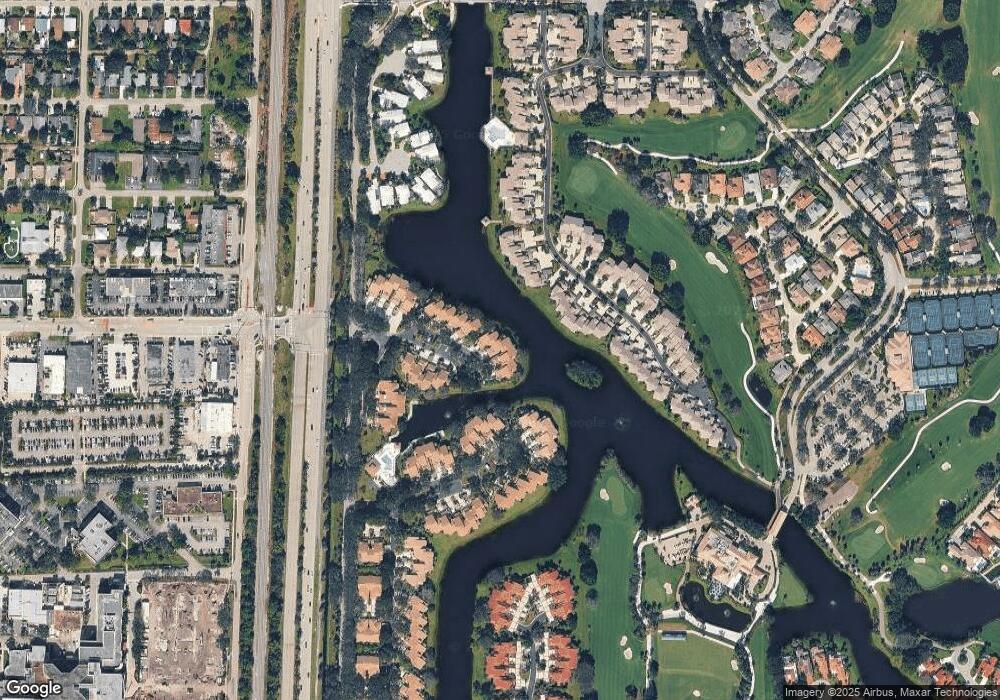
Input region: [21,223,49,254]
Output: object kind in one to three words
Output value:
building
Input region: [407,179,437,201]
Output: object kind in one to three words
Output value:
house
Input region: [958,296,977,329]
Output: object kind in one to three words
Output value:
tennis court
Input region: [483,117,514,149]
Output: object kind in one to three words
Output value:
swimming pool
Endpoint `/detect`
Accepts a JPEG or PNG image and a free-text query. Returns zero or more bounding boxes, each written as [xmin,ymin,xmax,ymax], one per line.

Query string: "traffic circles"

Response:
[951,647,985,700]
